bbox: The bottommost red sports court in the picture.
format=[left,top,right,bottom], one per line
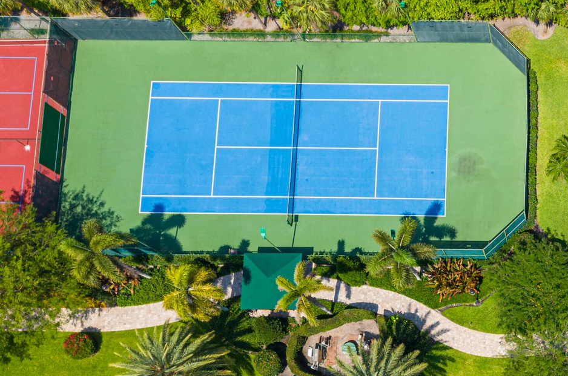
[0,40,69,261]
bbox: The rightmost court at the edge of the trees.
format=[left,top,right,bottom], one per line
[60,40,528,260]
